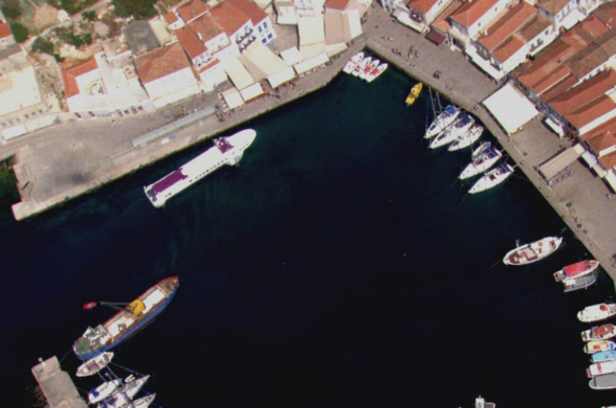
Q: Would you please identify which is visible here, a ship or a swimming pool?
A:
ship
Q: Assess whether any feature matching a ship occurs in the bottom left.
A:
Yes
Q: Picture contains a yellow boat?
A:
Yes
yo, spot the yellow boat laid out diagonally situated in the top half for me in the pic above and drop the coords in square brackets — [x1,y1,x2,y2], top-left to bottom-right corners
[406,81,422,106]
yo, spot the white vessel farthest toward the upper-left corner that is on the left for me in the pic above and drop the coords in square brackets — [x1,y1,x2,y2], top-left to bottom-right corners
[144,133,255,210]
